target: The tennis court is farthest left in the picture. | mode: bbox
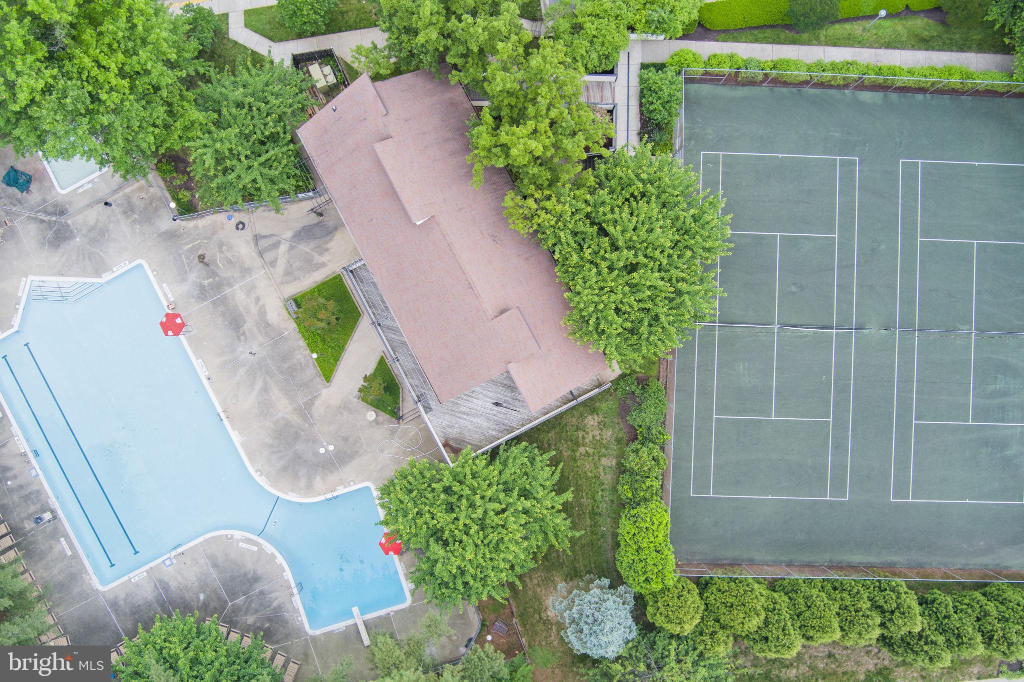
[672,82,881,568]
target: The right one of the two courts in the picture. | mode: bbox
[870,91,1024,572]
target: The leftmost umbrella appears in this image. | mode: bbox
[160,313,187,336]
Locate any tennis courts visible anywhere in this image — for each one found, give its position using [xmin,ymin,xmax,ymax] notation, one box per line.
[672,82,881,568]
[870,91,1024,572]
